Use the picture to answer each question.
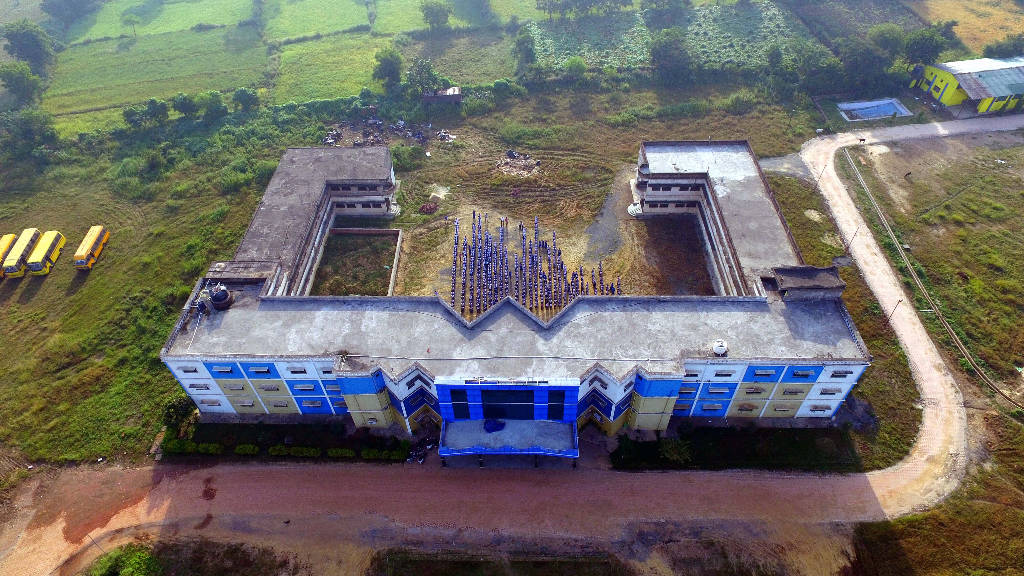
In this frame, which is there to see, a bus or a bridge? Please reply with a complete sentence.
There is a bus in the scene.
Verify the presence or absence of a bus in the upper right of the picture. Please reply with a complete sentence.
No, I can find no bus in the upper right of the picture.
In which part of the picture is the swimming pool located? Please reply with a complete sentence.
Look in the top right portion of the view to spot the swimming pool.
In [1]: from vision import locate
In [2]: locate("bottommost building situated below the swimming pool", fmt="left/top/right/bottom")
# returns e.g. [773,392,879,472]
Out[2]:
[160,135,872,471]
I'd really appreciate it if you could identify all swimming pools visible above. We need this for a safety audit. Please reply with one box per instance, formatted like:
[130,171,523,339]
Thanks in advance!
[839,99,913,122]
